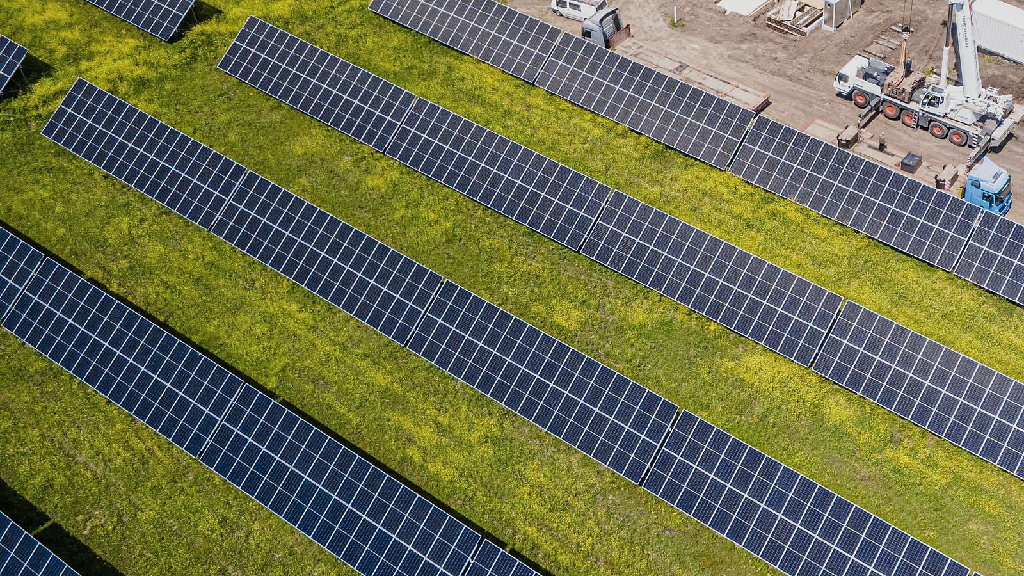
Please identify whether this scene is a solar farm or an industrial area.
solar farm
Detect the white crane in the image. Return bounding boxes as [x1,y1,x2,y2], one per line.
[830,0,1024,180]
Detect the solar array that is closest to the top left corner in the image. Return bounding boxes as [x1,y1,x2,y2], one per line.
[0,35,28,98]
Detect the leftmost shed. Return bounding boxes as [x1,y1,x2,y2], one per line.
[822,0,862,34]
